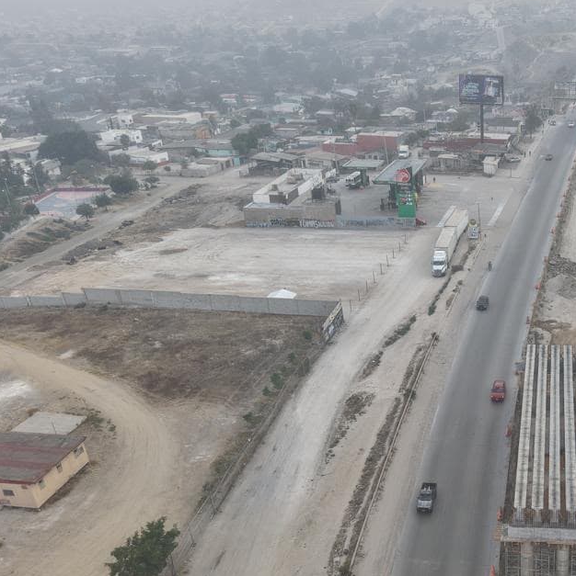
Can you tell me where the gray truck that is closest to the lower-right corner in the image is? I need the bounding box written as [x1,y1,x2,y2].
[413,474,438,510]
